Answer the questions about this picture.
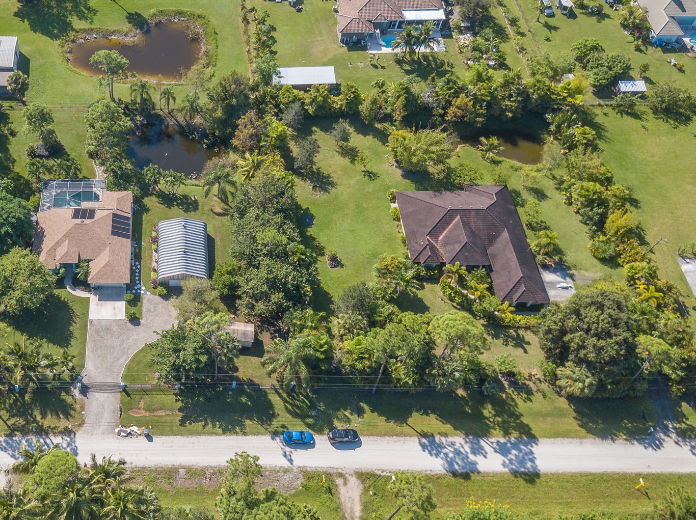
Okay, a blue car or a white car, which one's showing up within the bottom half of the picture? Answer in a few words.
blue car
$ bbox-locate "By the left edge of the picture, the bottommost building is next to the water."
[33,176,132,292]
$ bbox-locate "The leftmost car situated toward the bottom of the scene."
[283,430,316,448]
